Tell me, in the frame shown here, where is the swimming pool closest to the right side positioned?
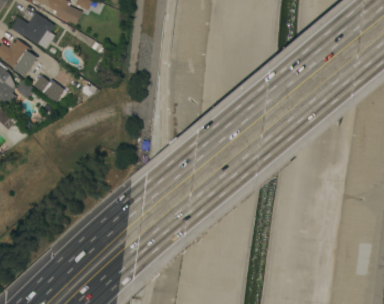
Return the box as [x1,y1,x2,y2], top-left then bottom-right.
[64,48,80,66]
